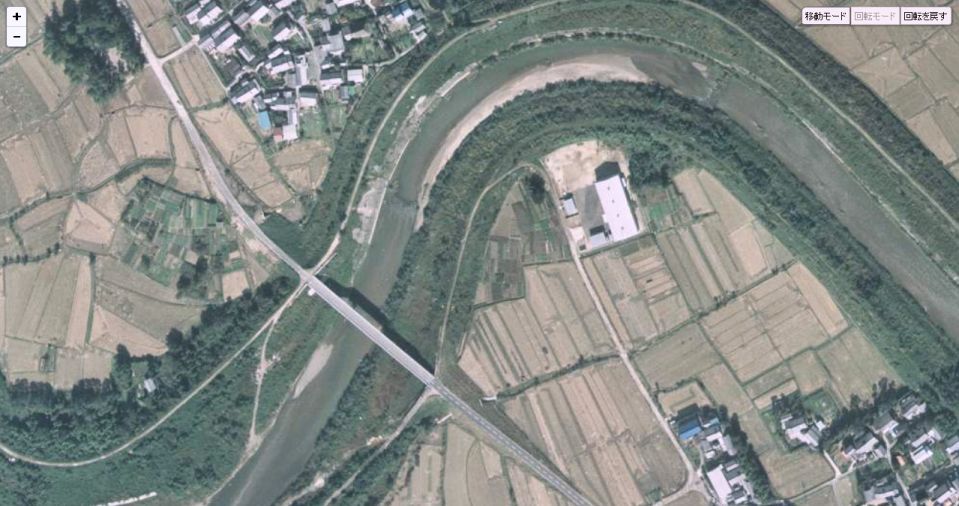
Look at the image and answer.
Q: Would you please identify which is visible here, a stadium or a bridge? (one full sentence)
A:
Of the two, only a bridge appears.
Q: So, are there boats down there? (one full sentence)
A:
No, the photo shows no boat.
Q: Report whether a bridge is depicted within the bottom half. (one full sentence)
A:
Yes, a bridge shows up within the bottom half.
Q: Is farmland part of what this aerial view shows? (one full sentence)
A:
Yes, there is farmland in the image.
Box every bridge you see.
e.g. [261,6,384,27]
[304,273,437,387]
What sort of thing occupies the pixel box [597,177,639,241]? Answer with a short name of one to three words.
building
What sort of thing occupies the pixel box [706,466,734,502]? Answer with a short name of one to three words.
barn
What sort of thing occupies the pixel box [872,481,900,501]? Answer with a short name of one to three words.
house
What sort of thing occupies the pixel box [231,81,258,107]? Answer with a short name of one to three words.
house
